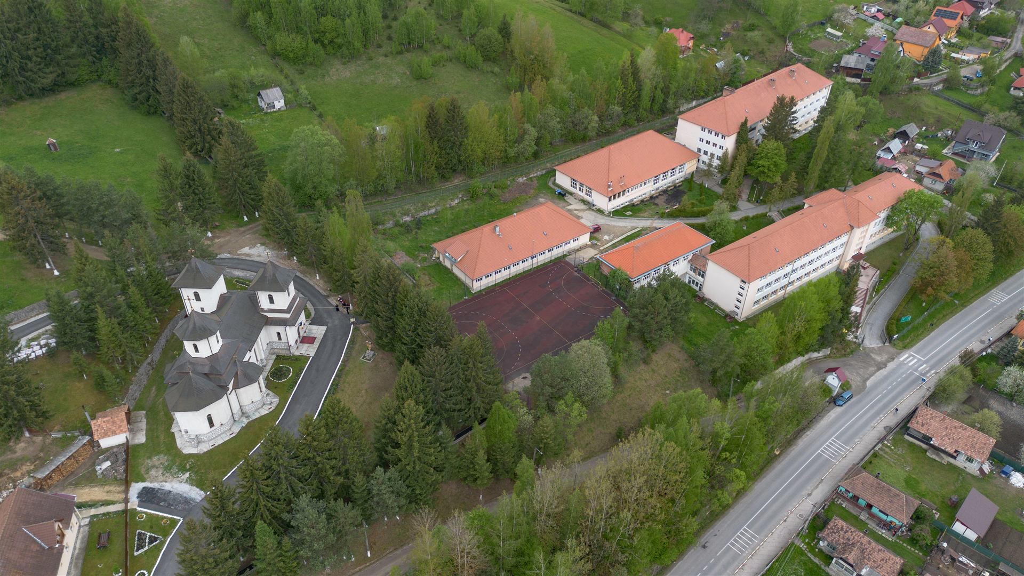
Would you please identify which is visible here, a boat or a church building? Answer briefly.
church building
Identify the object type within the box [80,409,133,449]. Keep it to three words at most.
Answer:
shed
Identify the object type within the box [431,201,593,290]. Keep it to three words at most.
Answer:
building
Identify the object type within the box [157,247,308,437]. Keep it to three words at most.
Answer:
church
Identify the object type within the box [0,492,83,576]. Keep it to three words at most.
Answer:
house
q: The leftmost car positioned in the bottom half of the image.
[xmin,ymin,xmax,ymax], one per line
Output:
[832,389,857,408]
